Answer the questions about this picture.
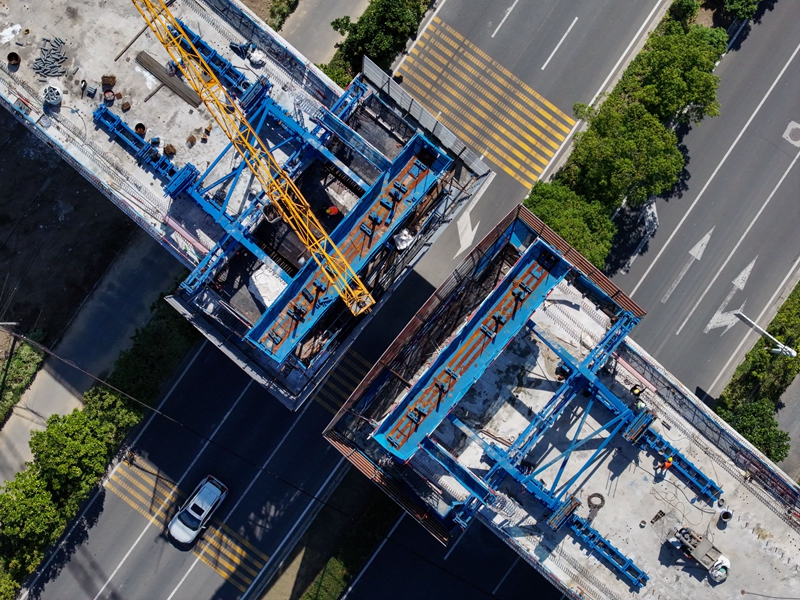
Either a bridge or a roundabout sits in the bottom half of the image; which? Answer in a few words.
bridge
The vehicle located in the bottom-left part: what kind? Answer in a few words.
automobile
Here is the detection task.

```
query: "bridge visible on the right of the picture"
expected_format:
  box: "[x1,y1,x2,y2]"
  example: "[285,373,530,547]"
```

[410,287,800,600]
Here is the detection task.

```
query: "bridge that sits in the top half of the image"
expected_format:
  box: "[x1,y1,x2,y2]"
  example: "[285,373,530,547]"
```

[0,0,357,278]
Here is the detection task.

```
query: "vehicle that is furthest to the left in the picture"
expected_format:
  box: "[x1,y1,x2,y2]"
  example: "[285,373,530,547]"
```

[168,472,230,552]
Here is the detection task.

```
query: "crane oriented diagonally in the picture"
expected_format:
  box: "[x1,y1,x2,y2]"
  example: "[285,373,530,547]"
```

[127,0,379,320]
